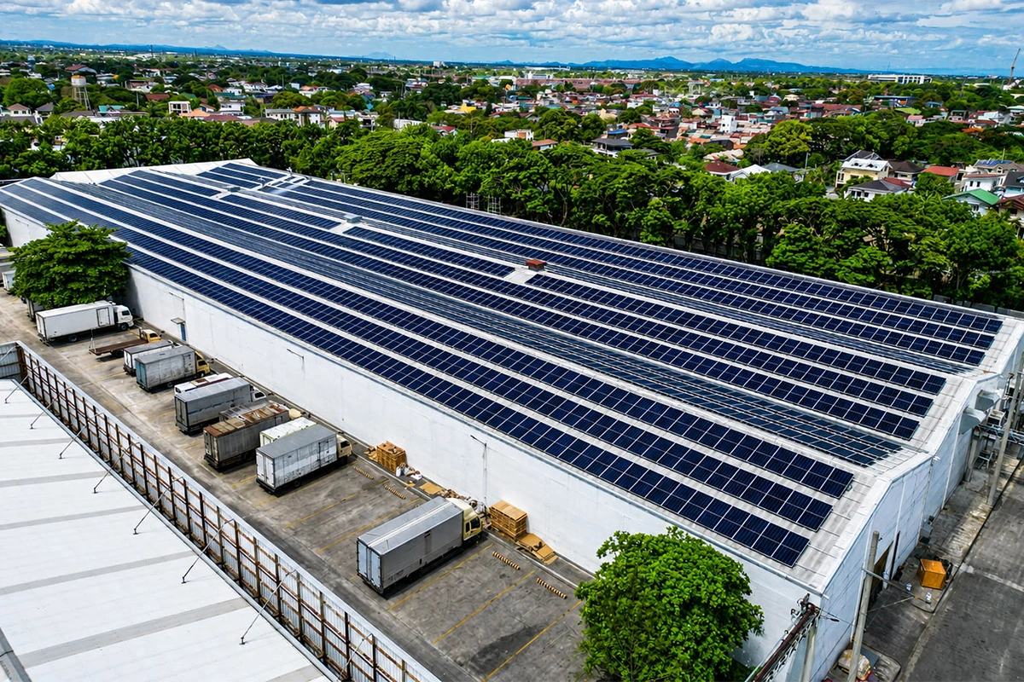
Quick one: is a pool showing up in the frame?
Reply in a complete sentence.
No, this view has no pool in it.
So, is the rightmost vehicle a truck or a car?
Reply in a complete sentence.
Specifically, the rightmost vehicle is a truck.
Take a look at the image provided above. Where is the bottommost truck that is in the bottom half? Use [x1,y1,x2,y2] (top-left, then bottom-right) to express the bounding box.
[355,491,491,587]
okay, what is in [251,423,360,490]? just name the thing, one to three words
truck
